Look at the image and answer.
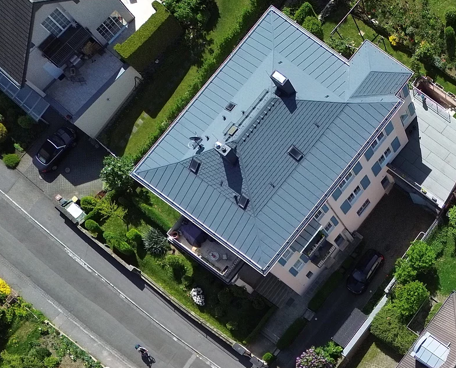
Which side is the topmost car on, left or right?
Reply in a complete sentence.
The topmost car is on the left side of the image.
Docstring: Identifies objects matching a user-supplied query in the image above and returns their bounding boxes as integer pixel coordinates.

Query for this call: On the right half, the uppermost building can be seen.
[128,3,456,315]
